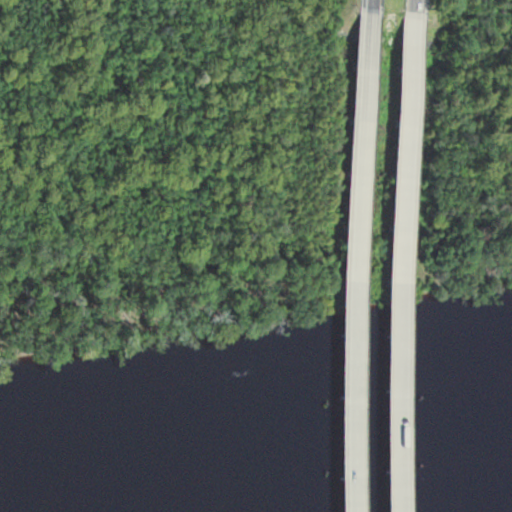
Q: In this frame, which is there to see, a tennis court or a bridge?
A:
bridge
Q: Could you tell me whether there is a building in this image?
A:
No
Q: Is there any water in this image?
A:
Yes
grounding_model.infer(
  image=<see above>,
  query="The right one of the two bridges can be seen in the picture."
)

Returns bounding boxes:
[386,12,427,512]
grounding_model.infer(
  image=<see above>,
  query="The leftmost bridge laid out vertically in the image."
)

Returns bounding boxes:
[341,12,381,512]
